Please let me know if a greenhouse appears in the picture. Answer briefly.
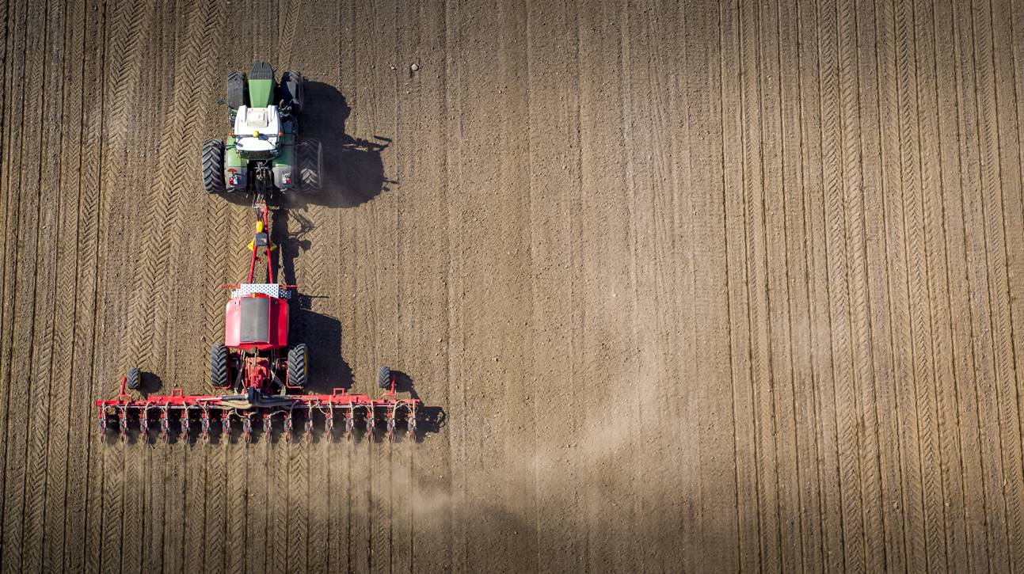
No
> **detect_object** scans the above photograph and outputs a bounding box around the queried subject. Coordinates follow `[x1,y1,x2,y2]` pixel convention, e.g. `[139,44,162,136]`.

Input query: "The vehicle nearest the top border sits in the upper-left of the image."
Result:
[202,61,323,207]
